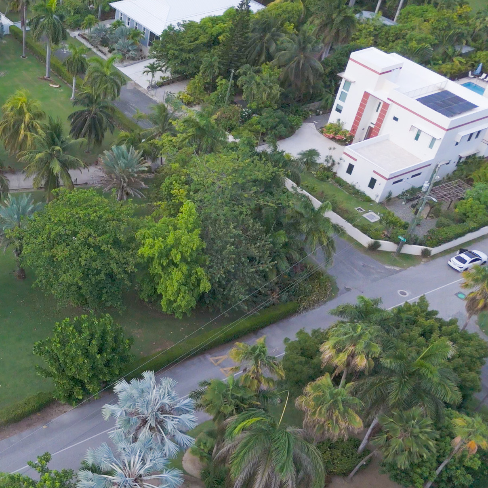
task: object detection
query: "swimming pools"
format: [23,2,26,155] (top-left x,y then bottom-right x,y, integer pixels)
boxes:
[450,75,488,90]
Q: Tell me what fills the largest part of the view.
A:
trees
